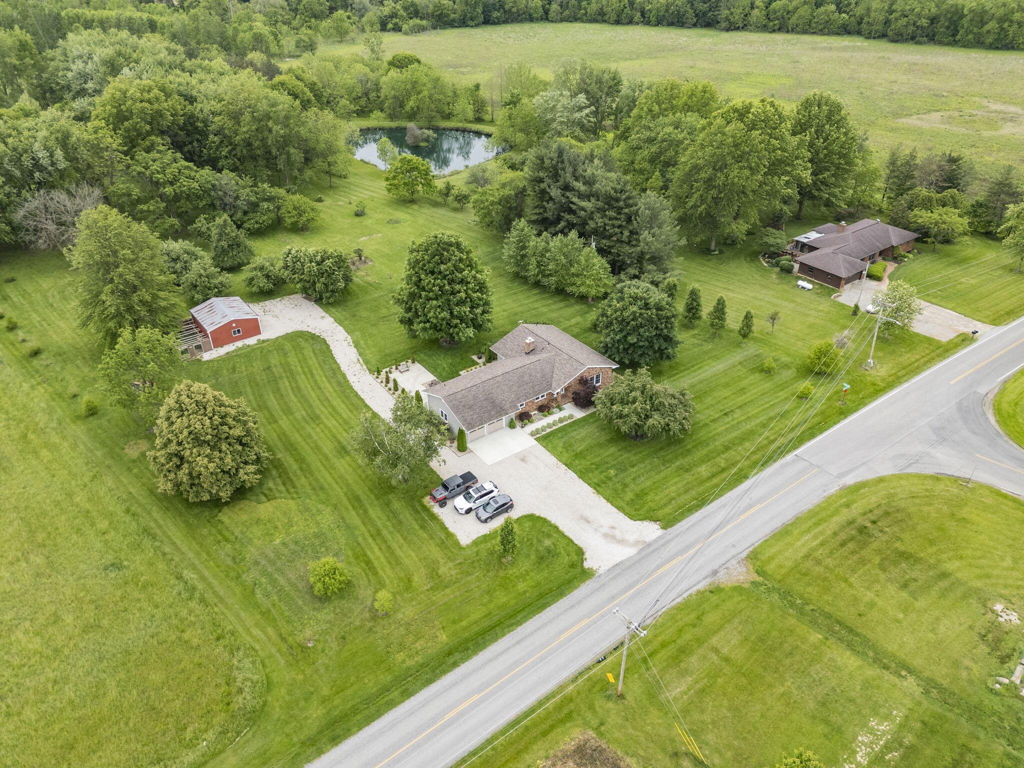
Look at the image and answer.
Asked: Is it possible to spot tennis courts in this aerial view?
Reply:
No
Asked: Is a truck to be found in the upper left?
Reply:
No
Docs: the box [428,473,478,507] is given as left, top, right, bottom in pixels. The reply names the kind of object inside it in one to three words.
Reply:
truck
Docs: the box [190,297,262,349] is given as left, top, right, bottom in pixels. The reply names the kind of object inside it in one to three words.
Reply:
barn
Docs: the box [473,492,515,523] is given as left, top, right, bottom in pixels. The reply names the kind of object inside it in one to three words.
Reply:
car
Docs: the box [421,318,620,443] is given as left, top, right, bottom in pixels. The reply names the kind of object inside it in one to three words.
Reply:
house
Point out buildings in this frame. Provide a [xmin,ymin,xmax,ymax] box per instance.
[421,318,620,443]
[190,297,262,349]
[792,216,921,289]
